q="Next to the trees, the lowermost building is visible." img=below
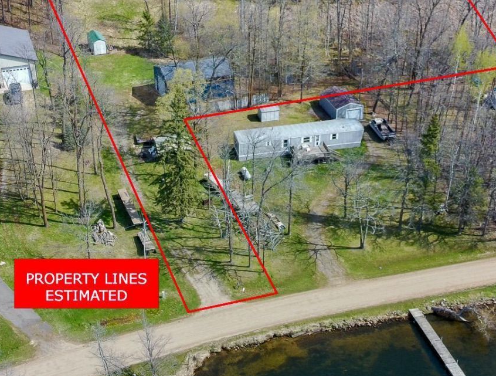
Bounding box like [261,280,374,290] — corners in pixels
[232,117,364,159]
